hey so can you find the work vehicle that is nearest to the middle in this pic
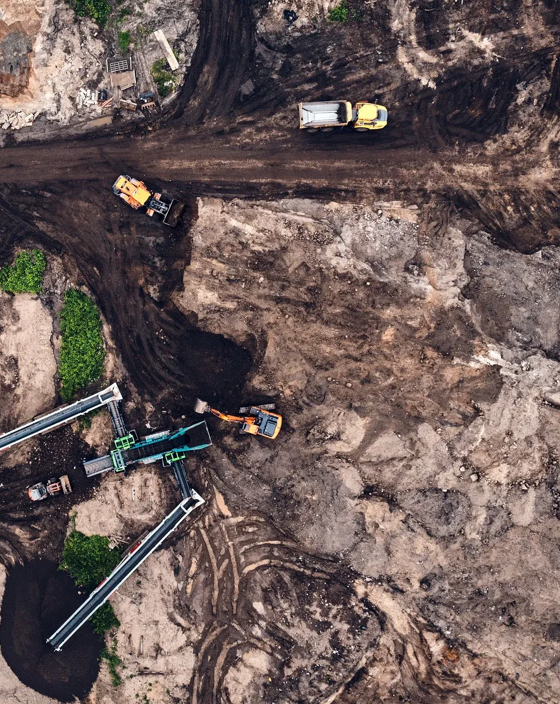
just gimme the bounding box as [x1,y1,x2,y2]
[193,400,282,439]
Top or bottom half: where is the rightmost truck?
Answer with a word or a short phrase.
top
